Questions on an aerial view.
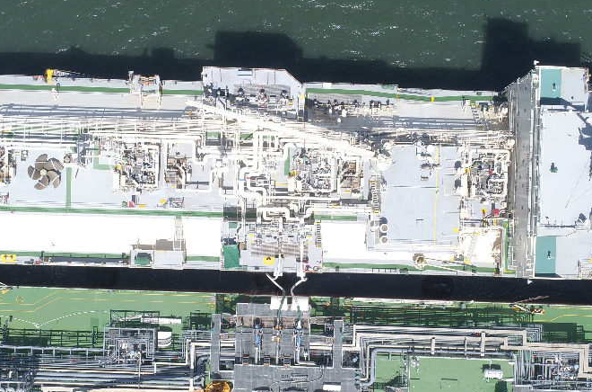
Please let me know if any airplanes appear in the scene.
No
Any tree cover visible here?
No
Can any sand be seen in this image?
No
